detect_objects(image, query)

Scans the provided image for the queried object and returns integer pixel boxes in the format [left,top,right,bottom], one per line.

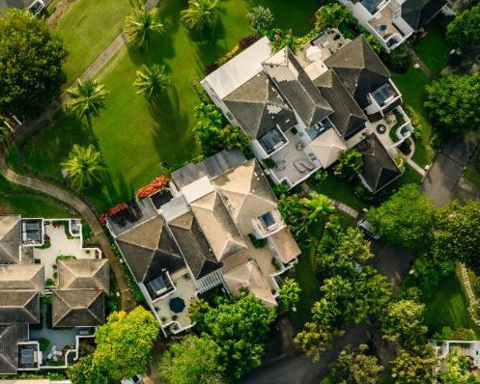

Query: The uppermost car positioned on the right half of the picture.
[355,216,379,237]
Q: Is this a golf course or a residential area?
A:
residential area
